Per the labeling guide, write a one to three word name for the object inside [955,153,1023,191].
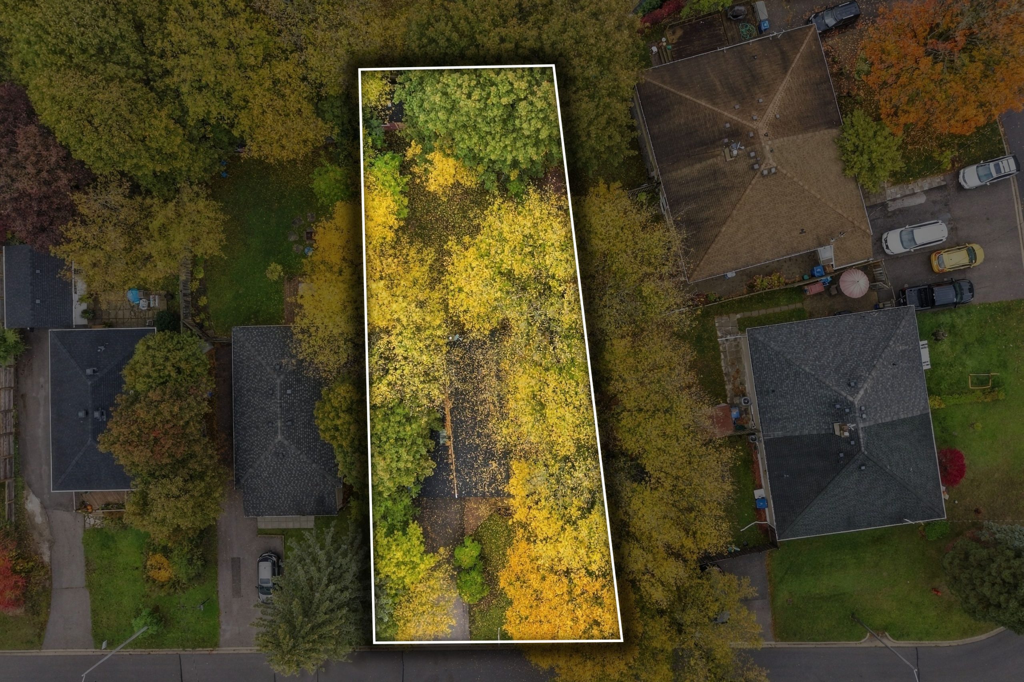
car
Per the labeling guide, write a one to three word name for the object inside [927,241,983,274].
car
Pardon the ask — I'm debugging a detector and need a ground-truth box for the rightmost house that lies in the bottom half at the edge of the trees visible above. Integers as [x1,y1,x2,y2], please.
[737,303,948,543]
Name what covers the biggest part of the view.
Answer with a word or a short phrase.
trees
